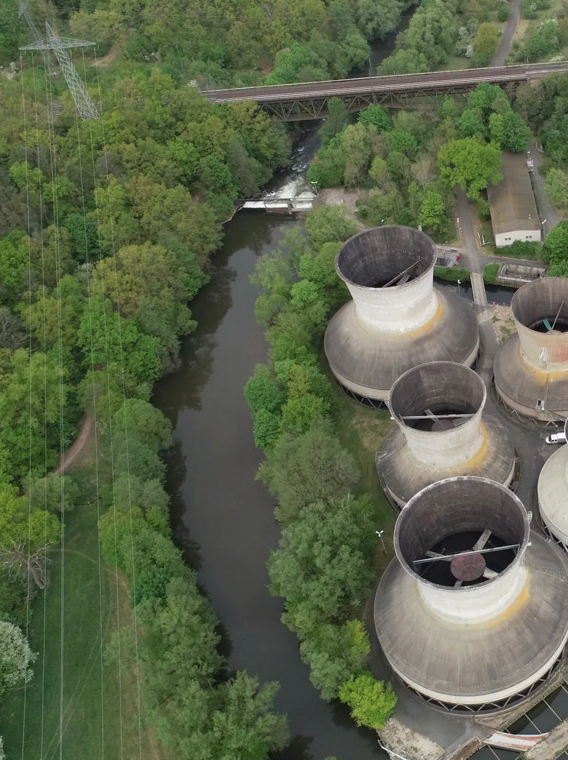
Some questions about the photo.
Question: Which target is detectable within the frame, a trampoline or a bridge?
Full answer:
There is a bridge in the scene.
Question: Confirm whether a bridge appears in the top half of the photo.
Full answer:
Yes, the scene does show a bridge in the top half of the photo.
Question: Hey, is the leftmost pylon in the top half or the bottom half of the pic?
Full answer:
Seen from above, the leftmost pylon lies in the top half of the view.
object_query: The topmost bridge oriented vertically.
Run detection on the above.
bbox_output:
[471,270,490,307]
